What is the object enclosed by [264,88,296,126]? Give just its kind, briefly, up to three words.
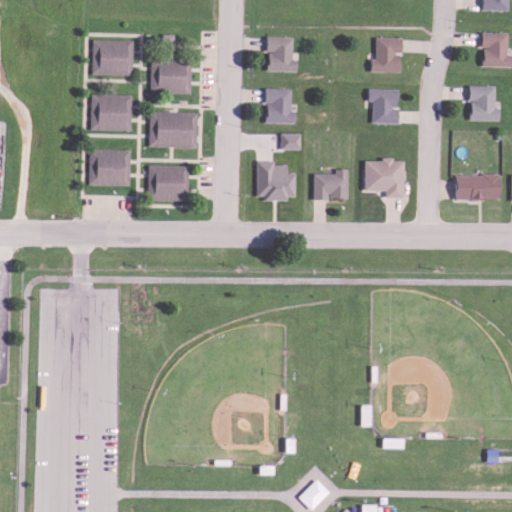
house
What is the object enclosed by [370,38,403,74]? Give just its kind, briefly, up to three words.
house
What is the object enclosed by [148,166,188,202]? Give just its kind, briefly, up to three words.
building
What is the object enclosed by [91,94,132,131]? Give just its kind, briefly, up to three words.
building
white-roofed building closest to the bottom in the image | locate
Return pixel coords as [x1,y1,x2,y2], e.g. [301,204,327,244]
[299,480,328,510]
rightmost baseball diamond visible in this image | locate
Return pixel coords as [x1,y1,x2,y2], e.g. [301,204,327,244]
[370,288,512,440]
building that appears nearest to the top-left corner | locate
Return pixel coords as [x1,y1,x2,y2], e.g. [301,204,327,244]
[92,40,134,76]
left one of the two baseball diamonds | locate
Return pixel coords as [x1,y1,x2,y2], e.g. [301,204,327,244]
[144,323,288,467]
